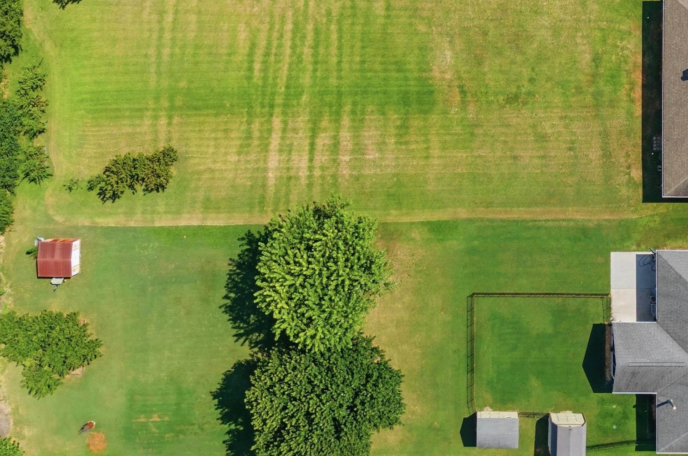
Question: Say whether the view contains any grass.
Yes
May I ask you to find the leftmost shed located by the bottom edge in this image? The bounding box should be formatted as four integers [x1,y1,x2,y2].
[477,412,519,448]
